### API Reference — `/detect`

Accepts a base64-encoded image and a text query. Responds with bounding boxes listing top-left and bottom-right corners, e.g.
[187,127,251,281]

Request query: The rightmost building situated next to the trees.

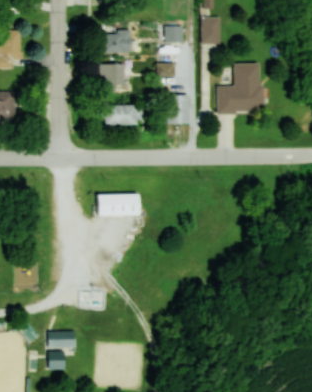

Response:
[218,62,264,112]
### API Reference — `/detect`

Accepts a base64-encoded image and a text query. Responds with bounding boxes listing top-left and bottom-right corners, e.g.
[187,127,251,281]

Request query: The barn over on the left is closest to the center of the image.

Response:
[98,193,142,217]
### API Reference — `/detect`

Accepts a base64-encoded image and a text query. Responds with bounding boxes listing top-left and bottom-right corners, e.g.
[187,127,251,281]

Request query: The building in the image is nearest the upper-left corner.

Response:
[0,30,24,70]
